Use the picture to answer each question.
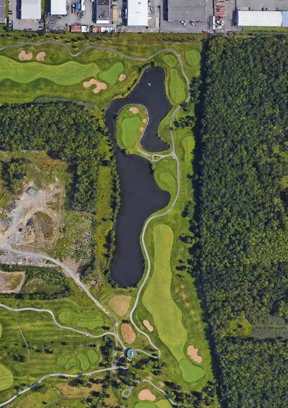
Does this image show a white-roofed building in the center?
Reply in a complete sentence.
No, I can find no white-roofed building in the center.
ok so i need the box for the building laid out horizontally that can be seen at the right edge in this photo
[236,11,282,27]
